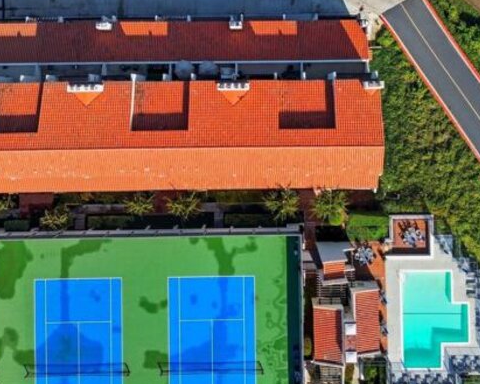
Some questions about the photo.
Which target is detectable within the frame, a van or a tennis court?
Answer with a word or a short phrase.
tennis court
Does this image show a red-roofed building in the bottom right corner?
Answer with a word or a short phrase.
Yes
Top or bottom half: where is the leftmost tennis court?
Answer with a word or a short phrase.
bottom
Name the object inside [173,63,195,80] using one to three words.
umbrella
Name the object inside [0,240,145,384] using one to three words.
tennis court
